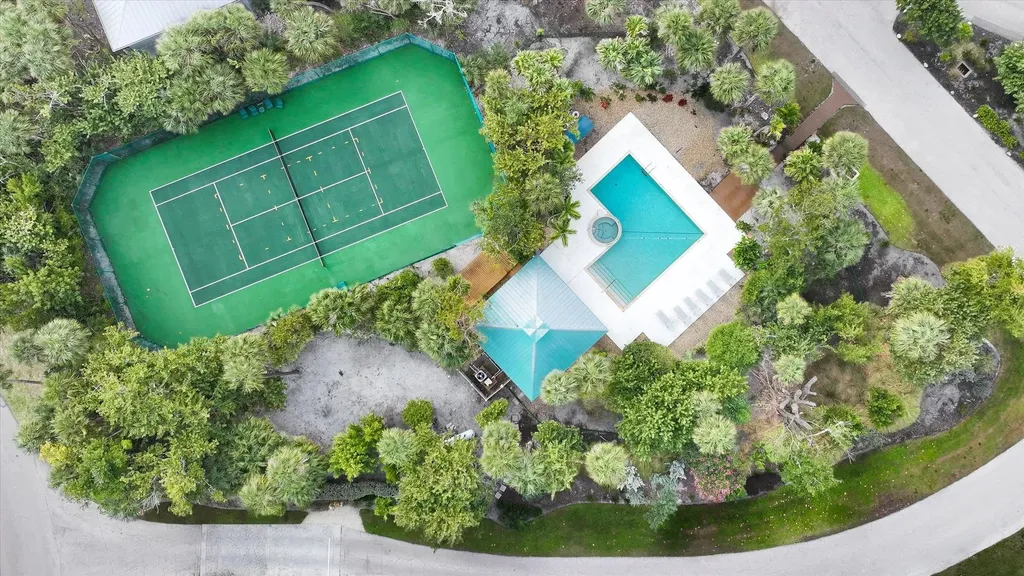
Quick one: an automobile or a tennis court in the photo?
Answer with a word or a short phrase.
tennis court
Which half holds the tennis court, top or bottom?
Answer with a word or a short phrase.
top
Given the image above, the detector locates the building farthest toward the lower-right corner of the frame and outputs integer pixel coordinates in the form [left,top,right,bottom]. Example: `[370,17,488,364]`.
[462,254,608,402]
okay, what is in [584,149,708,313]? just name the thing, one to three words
swimming pool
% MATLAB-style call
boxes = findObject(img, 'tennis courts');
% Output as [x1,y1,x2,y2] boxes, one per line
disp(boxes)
[89,44,495,349]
